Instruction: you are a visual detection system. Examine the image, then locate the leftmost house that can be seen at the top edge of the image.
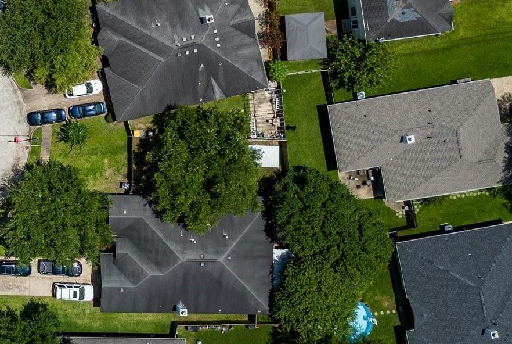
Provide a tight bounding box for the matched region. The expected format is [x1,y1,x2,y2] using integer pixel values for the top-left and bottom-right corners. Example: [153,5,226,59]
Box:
[95,0,269,122]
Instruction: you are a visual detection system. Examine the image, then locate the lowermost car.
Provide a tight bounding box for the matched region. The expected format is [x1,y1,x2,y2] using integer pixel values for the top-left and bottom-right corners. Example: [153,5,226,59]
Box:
[52,282,94,303]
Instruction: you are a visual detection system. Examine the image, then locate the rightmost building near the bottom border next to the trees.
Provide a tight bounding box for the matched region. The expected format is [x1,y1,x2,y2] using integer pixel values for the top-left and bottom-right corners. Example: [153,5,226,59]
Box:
[389,222,512,344]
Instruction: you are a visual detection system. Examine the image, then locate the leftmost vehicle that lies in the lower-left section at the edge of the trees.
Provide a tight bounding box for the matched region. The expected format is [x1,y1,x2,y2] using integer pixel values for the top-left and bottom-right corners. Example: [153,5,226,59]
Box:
[0,258,33,278]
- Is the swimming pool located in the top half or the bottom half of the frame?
bottom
